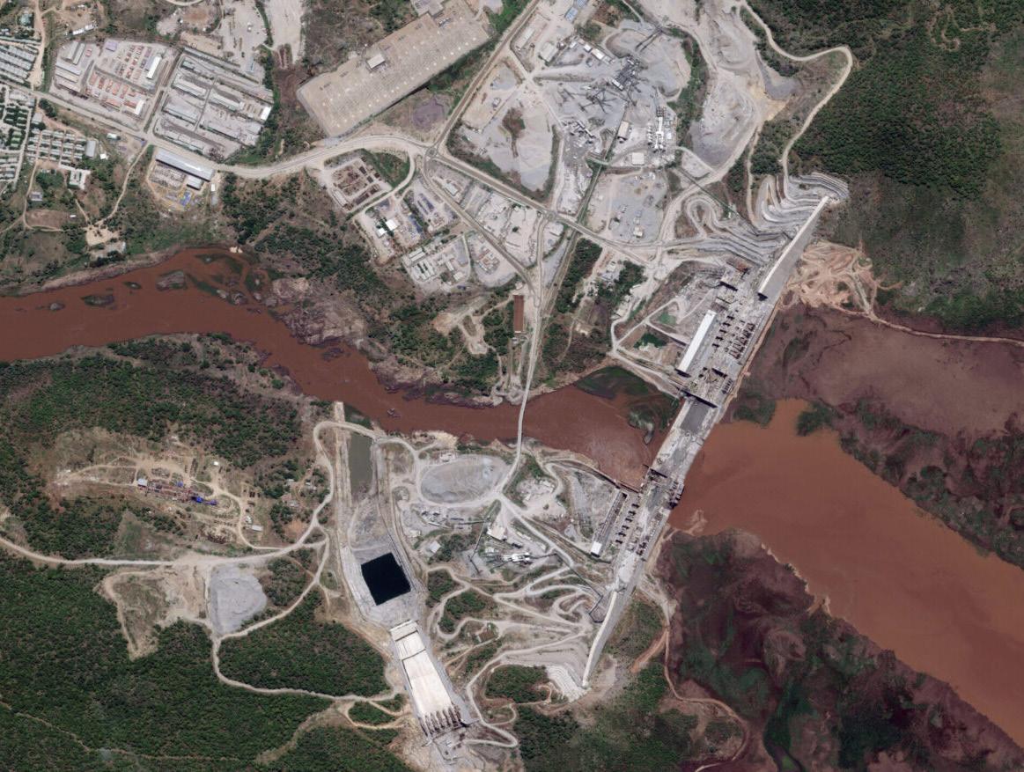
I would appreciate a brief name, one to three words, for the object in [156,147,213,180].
building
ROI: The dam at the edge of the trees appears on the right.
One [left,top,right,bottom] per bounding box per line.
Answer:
[583,195,830,689]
